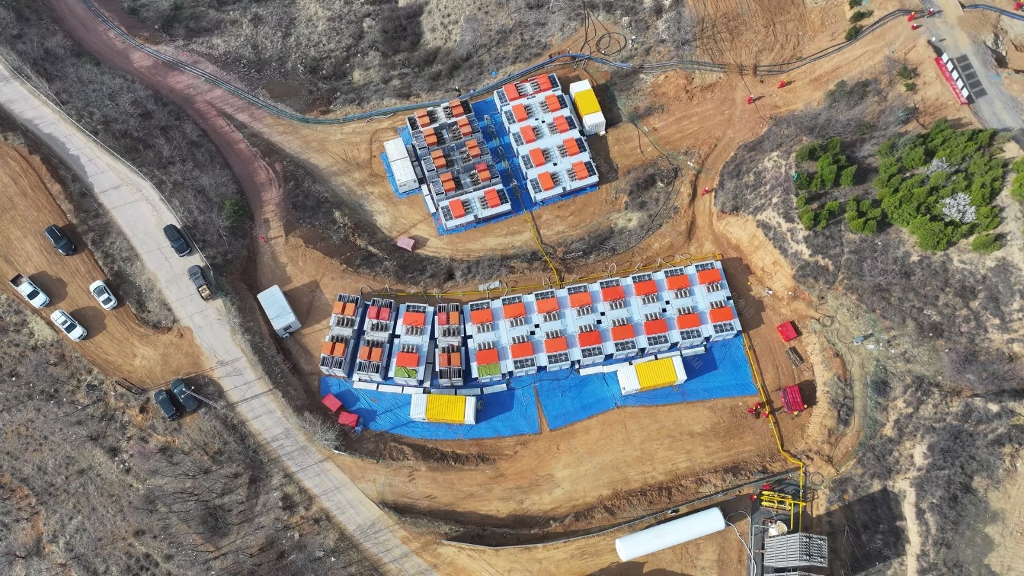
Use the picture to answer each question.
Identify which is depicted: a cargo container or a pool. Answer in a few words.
cargo container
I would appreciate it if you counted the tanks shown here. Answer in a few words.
1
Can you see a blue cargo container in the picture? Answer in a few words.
No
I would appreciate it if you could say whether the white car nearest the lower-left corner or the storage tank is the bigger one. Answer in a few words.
the storage tank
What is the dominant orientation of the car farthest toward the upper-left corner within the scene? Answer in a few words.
diagonally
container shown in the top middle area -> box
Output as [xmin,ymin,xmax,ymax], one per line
[567,79,608,140]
